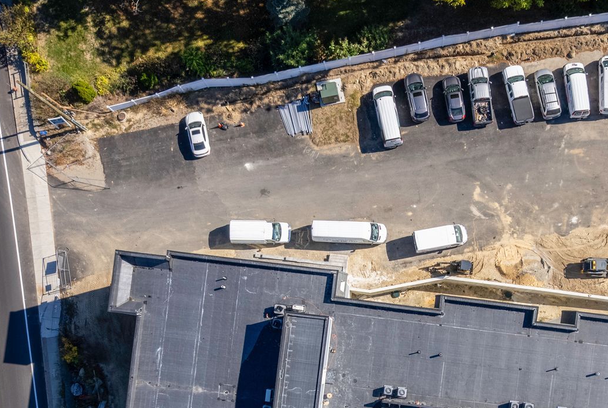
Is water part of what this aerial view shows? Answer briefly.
No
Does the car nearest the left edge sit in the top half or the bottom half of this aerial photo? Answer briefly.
top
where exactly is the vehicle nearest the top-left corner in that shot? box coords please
[182,110,213,161]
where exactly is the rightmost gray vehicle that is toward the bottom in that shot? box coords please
[579,258,608,277]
